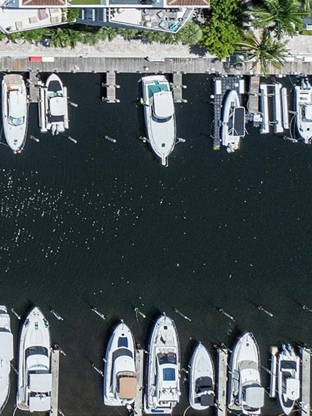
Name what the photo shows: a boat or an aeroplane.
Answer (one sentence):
There is a boat in the scene.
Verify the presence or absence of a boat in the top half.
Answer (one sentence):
Yes, a boat shows up in the top half.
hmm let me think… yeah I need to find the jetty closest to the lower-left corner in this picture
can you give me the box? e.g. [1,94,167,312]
[49,349,62,416]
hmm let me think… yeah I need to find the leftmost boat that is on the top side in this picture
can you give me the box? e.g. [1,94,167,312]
[0,70,29,157]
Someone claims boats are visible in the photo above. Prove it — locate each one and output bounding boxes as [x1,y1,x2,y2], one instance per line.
[275,346,295,416]
[143,311,181,413]
[99,318,137,405]
[0,304,11,410]
[0,70,29,157]
[41,71,64,132]
[136,72,177,165]
[215,88,244,152]
[184,339,213,407]
[13,306,53,413]
[226,329,263,413]
[286,80,312,146]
